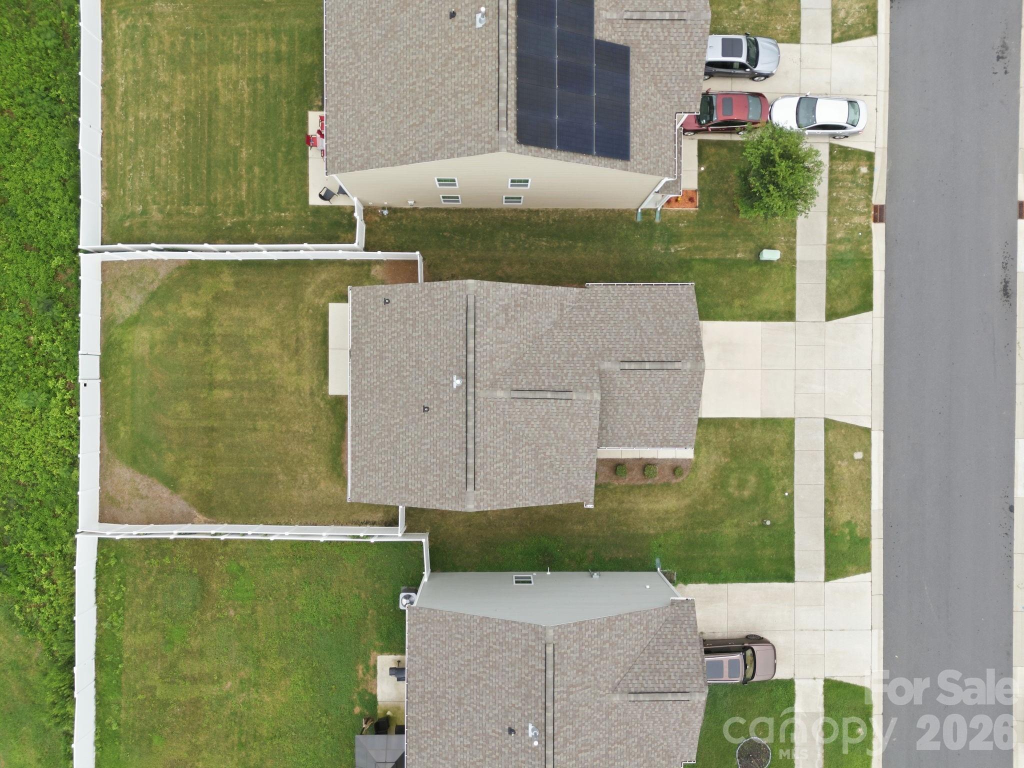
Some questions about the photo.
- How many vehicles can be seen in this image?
4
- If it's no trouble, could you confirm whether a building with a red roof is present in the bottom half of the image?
No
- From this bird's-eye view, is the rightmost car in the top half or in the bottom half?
top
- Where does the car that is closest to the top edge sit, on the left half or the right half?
right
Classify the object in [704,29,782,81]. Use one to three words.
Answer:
car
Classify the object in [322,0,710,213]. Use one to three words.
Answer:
house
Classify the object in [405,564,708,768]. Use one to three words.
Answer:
house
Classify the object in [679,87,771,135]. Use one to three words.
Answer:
car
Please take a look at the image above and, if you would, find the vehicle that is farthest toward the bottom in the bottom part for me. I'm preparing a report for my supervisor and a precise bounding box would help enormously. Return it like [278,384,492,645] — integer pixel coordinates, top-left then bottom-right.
[700,634,778,686]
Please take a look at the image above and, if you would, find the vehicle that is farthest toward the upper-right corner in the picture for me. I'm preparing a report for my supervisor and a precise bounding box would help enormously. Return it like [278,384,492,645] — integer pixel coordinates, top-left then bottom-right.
[768,91,869,139]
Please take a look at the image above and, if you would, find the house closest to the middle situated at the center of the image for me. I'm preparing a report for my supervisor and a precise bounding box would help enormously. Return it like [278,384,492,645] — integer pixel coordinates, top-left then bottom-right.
[346,279,704,511]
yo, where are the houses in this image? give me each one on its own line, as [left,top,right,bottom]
[405,564,708,768]
[322,0,710,213]
[346,279,704,511]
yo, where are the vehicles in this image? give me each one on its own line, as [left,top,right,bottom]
[700,634,778,686]
[704,29,782,81]
[679,87,771,135]
[768,91,869,139]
